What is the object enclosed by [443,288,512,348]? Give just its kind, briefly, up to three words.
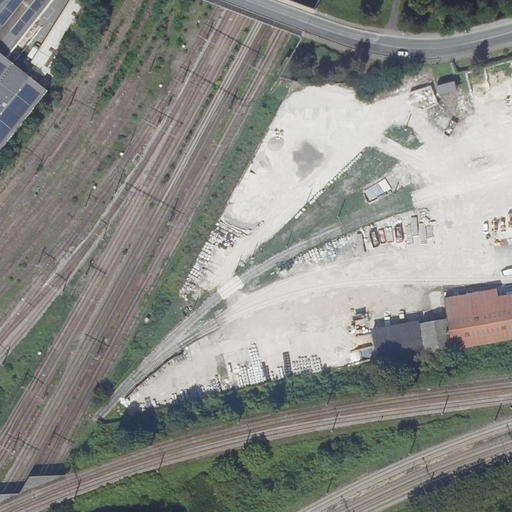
building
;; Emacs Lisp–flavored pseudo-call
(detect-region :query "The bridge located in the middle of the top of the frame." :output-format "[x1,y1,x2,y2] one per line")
[202,0,320,41]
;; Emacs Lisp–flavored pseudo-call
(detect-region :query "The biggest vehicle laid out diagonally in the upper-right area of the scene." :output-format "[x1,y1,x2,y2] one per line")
[444,116,460,136]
